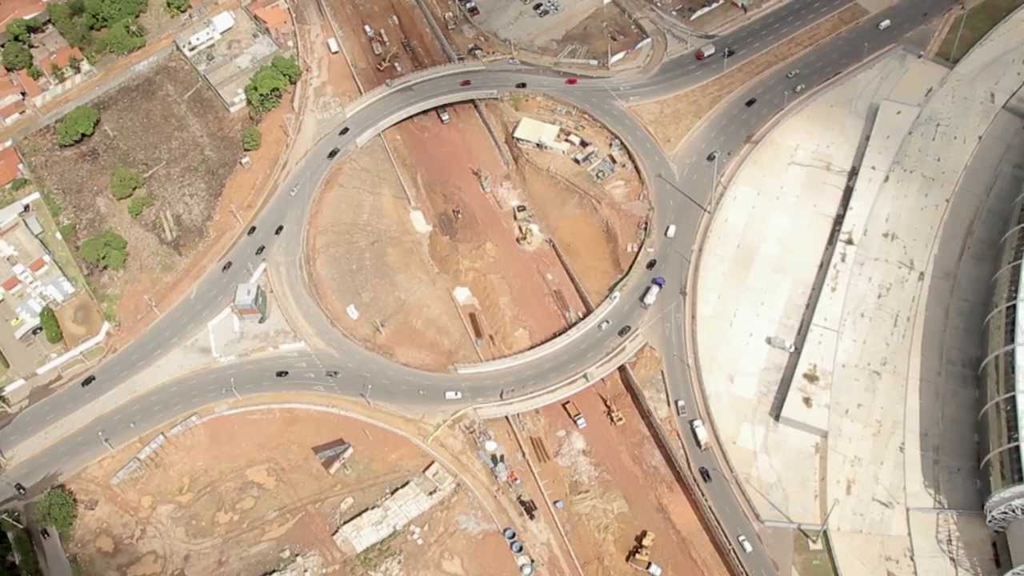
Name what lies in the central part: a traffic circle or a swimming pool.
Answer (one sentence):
Looking in the central part, you will find a traffic circle.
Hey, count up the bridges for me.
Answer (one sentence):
In total, 2 bridges can be seen.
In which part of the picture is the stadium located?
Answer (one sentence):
The stadium is in the right part of the image.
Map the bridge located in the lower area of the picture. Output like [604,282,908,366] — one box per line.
[454,292,647,418]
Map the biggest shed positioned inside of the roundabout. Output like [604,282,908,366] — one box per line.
[514,120,561,150]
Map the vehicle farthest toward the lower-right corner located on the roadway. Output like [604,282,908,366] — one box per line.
[738,535,751,552]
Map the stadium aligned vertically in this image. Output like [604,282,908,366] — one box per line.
[974,162,1024,492]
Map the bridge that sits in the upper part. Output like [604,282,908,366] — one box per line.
[341,56,504,150]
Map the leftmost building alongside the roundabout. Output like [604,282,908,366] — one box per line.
[234,280,269,324]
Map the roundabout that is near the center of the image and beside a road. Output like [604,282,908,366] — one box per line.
[266,64,703,414]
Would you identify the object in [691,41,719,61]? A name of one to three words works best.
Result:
vehicle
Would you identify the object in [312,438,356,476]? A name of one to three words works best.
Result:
shed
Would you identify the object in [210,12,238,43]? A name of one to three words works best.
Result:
building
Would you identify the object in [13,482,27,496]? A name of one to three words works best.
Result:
car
